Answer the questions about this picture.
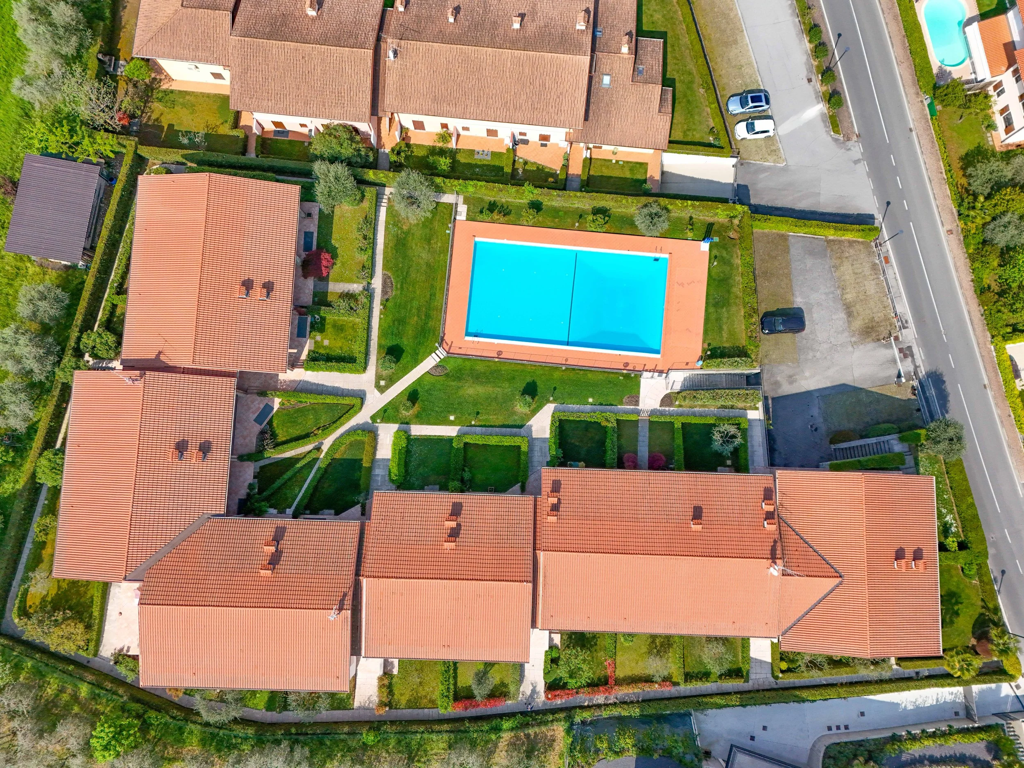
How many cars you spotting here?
3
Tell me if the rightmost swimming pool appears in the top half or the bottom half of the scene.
top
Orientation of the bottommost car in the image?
horizontally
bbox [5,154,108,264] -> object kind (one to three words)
shed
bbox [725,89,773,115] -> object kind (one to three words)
car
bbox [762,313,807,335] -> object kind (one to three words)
car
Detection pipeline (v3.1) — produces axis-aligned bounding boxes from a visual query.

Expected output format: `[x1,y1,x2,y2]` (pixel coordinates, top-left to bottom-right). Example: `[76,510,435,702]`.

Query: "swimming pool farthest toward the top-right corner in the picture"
[923,0,966,67]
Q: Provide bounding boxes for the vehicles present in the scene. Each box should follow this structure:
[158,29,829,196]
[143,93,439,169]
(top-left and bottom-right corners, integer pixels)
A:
[762,313,807,335]
[725,89,773,115]
[733,119,777,142]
